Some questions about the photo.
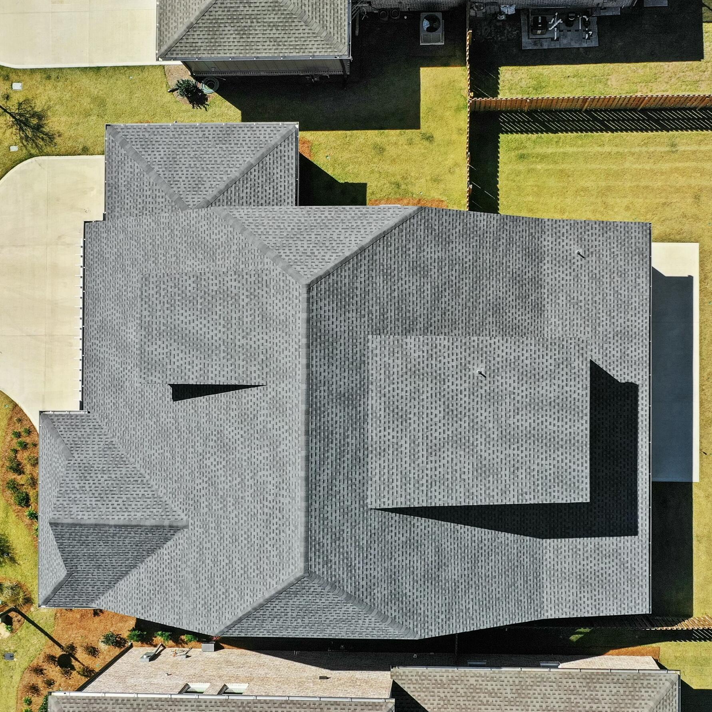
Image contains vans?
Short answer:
No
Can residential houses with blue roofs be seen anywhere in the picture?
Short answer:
No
